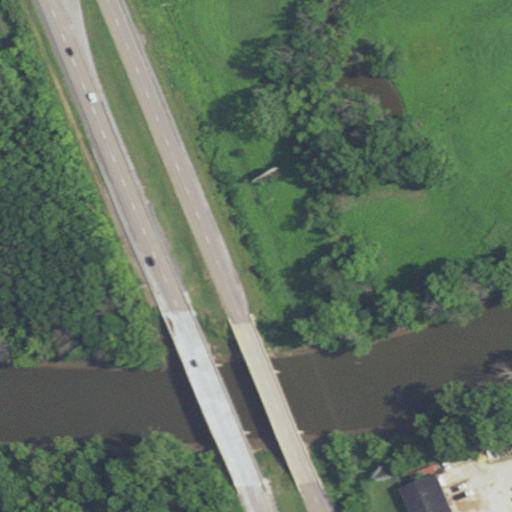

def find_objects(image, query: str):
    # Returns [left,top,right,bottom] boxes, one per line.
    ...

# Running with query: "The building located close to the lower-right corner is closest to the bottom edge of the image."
[398,474,450,512]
